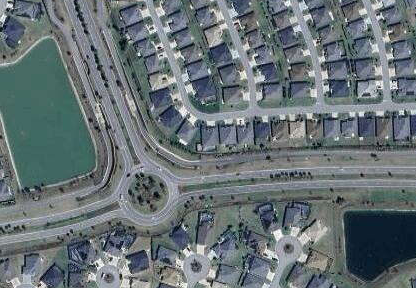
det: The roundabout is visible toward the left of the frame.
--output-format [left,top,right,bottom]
[117,163,180,225]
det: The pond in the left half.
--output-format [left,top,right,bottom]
[0,37,96,188]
